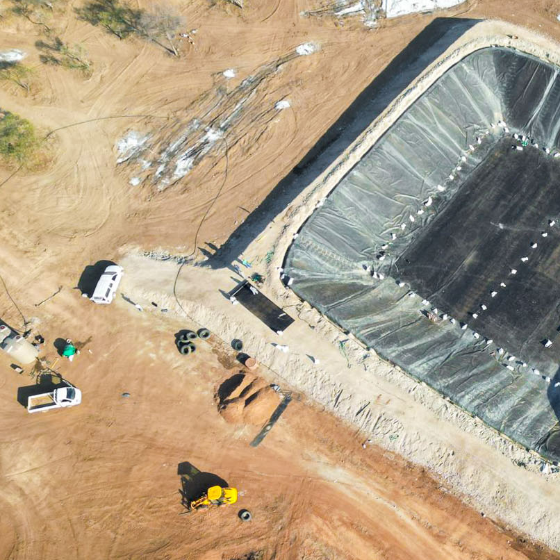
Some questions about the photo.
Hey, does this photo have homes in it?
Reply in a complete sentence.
No, there is no home in the image.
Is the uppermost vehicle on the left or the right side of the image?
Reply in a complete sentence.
The uppermost vehicle is on the left side of the image.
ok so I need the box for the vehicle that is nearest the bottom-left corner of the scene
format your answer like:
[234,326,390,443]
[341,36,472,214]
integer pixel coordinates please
[19,384,81,411]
